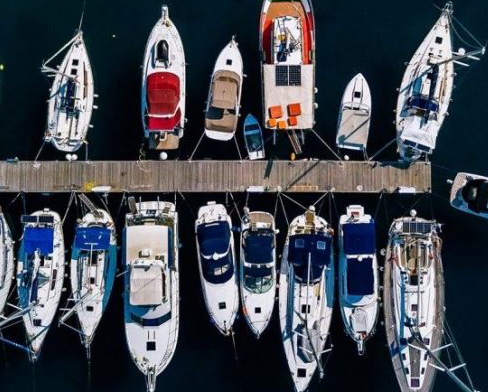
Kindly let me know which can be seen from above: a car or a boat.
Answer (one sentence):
It is a boat that can be seen here.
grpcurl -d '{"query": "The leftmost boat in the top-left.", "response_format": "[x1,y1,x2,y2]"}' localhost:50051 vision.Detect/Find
[38,33,98,151]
